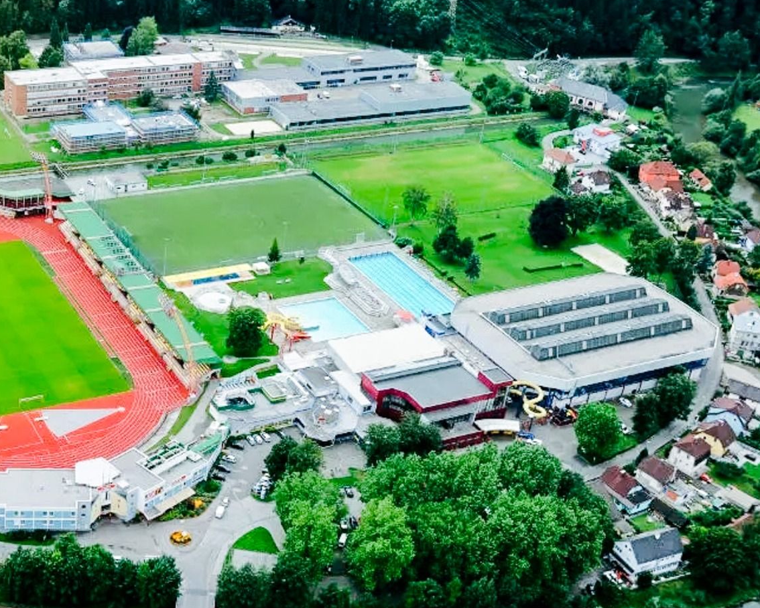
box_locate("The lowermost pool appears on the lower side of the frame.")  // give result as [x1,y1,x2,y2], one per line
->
[212,388,255,416]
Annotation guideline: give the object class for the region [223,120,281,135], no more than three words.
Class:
sports court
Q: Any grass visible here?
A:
Yes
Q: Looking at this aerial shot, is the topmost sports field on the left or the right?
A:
left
